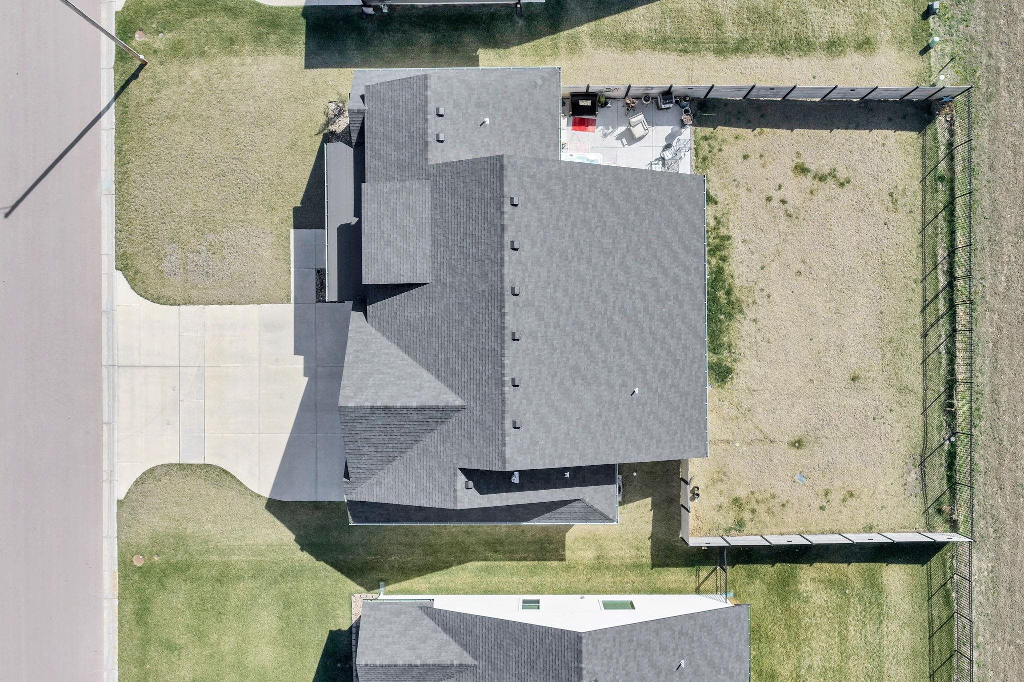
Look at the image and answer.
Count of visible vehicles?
0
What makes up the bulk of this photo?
grass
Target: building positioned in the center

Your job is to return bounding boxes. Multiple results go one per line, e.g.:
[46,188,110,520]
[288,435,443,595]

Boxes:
[324,65,708,525]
